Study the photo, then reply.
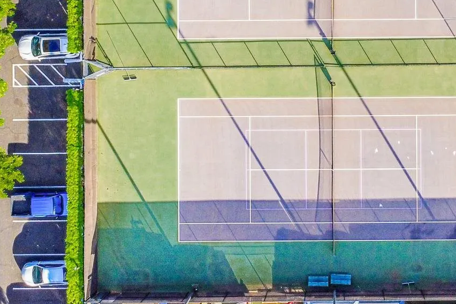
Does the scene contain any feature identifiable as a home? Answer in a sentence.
No, there isn't any home down there.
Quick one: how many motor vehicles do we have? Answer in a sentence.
My tally gives 3 motor vehicles in this view.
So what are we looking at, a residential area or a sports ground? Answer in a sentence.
The area seen from above is a sports ground.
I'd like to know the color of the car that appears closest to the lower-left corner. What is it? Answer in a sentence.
The car that appears closest to the lower-left corner is blue.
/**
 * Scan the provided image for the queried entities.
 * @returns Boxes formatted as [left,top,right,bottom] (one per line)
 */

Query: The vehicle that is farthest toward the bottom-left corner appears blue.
[25,259,70,288]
